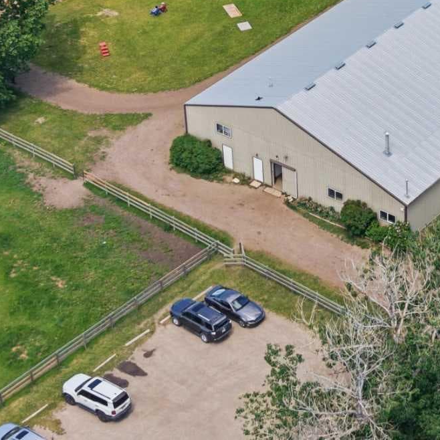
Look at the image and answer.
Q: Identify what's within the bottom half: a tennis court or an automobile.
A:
automobile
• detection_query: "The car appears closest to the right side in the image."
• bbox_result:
[208,287,271,331]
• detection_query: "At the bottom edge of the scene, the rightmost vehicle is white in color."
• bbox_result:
[59,378,132,426]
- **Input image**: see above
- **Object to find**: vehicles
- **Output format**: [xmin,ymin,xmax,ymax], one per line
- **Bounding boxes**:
[0,422,49,440]
[166,300,233,344]
[59,378,132,426]
[208,287,271,331]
